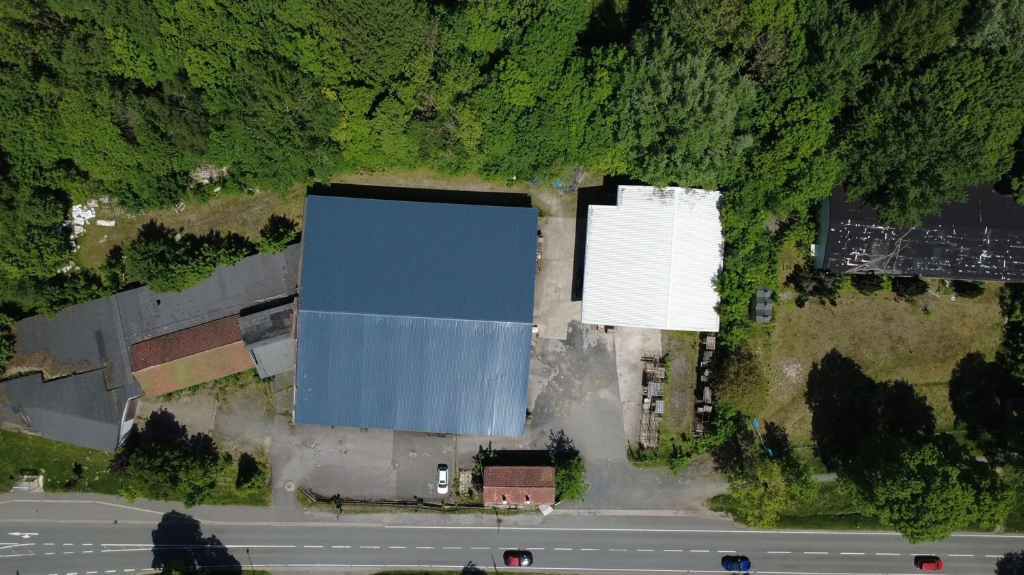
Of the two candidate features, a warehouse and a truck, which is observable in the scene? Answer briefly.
warehouse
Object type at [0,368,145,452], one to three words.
building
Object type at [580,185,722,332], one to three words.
shed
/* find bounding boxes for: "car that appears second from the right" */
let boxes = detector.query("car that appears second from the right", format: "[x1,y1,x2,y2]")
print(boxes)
[721,556,750,572]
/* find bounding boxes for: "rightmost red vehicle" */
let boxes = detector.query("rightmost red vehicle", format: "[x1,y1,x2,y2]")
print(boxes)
[914,556,943,571]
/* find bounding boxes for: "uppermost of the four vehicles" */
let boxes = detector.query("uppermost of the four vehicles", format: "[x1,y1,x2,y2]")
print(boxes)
[436,464,451,495]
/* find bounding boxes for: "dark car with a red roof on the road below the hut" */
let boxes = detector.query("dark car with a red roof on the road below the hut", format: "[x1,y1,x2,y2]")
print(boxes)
[503,552,533,568]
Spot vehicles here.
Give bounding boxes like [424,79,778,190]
[721,556,750,572]
[503,552,533,568]
[436,464,451,495]
[914,556,943,571]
